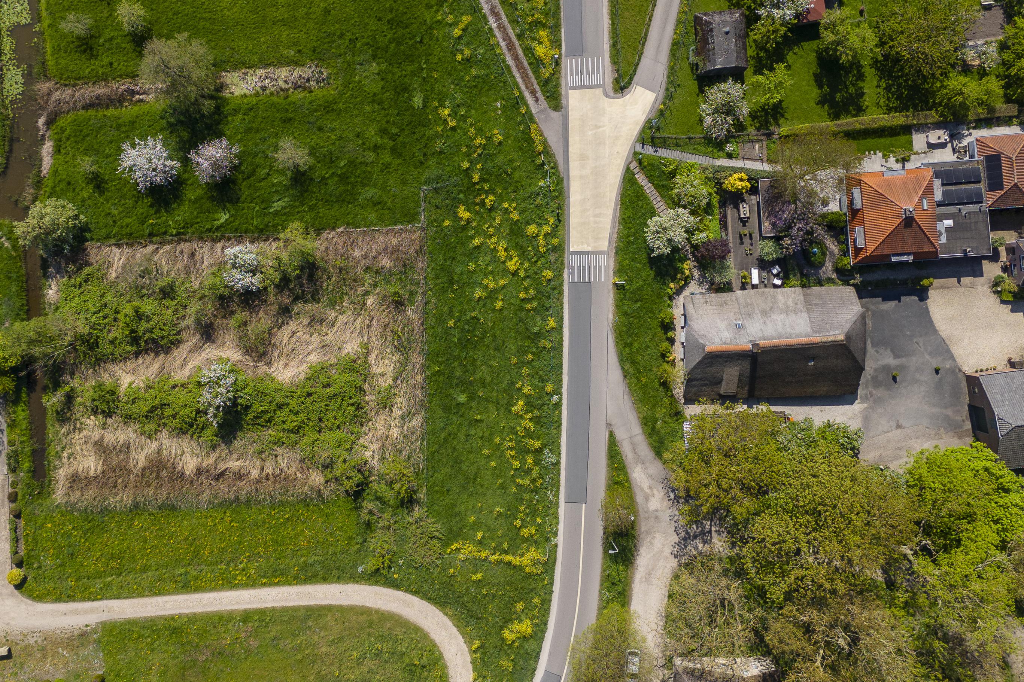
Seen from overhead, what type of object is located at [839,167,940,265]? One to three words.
house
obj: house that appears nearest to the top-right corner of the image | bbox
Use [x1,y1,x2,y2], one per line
[966,132,1024,209]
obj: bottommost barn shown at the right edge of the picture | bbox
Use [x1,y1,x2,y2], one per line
[966,372,1024,470]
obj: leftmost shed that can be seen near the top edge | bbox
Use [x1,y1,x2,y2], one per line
[695,9,748,76]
